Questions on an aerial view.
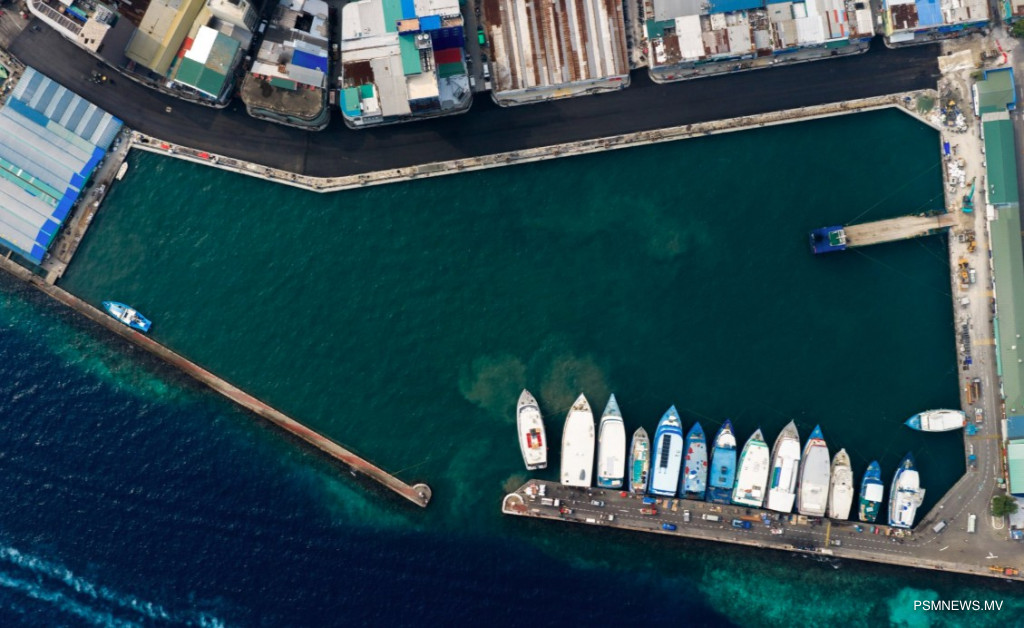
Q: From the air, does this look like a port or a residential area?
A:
port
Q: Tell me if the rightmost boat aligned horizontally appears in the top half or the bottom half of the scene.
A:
bottom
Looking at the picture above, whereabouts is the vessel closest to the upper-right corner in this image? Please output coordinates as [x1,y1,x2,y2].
[808,211,957,256]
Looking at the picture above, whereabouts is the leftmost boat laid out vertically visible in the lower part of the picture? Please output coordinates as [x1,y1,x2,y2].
[516,389,549,470]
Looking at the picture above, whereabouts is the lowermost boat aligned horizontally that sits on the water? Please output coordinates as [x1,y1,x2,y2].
[904,409,967,432]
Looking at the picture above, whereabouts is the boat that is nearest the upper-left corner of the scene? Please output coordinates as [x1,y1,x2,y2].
[116,163,129,182]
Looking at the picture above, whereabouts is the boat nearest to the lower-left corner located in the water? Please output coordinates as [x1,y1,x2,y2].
[101,301,154,331]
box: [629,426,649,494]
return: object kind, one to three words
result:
boat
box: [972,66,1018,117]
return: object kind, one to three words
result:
building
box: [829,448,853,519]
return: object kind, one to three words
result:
boat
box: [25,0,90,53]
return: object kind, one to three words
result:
building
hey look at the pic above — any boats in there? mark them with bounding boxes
[561,393,596,489]
[904,409,967,432]
[681,421,707,500]
[829,448,853,519]
[101,301,154,331]
[733,428,769,506]
[706,418,738,504]
[597,393,625,488]
[116,163,129,182]
[516,389,549,470]
[650,405,683,497]
[766,419,801,514]
[857,460,886,522]
[887,451,923,528]
[798,424,830,515]
[629,426,649,494]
